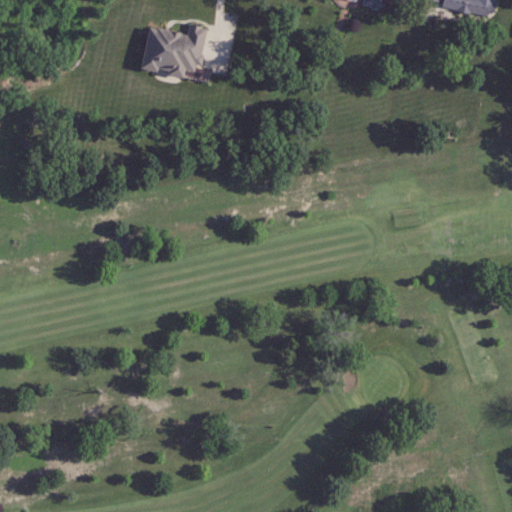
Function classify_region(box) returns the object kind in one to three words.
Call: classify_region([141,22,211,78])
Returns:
house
